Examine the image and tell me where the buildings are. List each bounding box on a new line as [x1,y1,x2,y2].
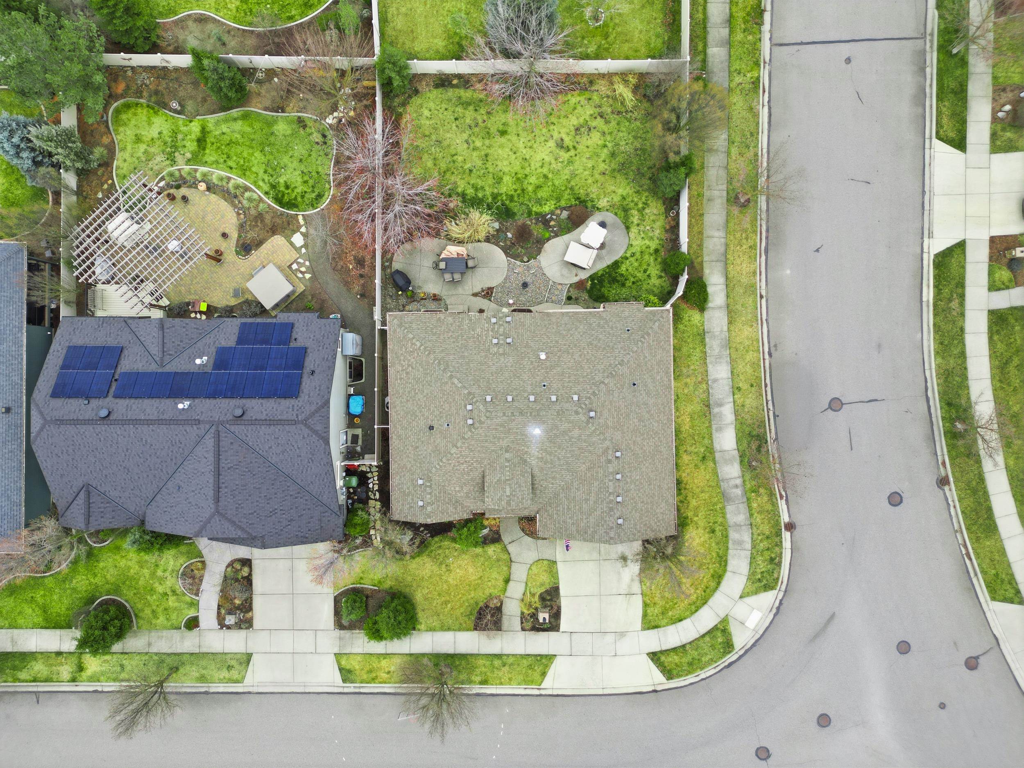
[31,310,365,548]
[385,300,679,545]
